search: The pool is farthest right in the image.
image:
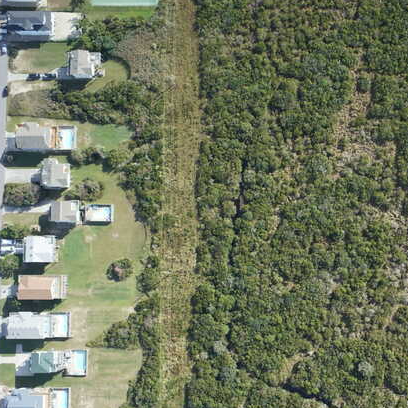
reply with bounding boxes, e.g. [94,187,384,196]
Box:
[85,205,114,223]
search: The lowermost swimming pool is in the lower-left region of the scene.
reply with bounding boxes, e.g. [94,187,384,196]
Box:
[51,388,71,408]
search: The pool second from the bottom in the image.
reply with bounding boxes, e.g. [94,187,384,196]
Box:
[66,350,88,376]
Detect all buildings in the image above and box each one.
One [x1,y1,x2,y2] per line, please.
[22,236,62,262]
[0,11,57,45]
[0,387,54,408]
[7,311,54,339]
[39,159,77,189]
[51,201,85,224]
[14,122,59,150]
[28,350,67,373]
[11,275,70,301]
[66,49,103,80]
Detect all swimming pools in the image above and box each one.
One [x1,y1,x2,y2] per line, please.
[51,388,71,408]
[85,205,114,223]
[66,350,88,376]
[51,313,69,339]
[56,126,77,149]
